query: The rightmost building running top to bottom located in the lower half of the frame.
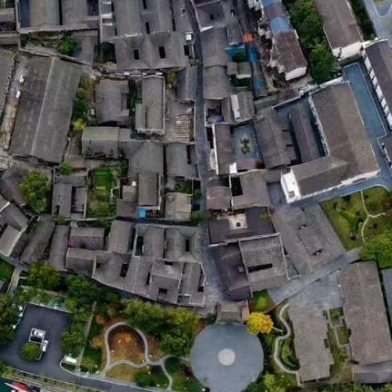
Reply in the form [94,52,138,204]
[337,262,392,366]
